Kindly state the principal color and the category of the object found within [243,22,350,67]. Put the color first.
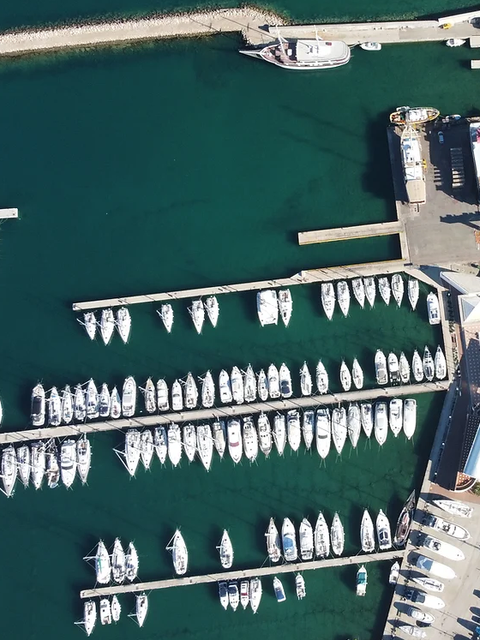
white ship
